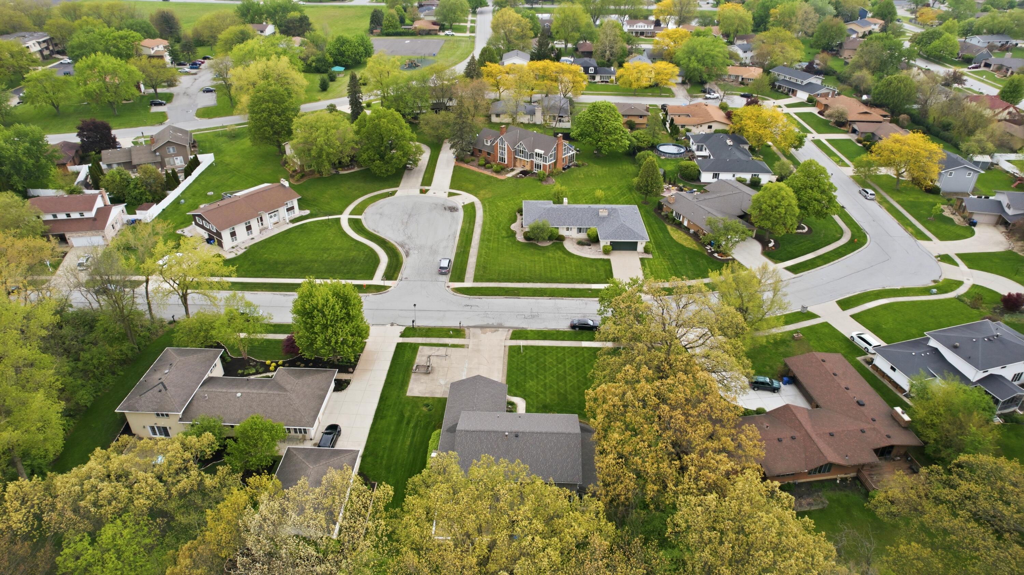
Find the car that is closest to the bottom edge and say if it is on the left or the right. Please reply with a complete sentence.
The car that is closest to the bottom edge is on the left side of the image.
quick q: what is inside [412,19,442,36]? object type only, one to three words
house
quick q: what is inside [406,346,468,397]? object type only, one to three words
sports court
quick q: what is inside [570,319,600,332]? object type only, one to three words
vehicle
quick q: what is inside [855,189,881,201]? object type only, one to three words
vehicle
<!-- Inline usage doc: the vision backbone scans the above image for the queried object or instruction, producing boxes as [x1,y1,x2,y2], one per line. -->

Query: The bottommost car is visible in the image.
[315,423,344,448]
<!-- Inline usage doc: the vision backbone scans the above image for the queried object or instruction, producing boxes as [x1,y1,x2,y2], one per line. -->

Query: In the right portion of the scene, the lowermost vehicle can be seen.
[748,377,783,396]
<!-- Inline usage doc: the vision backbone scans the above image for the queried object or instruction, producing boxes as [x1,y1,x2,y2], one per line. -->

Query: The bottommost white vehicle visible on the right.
[847,333,885,353]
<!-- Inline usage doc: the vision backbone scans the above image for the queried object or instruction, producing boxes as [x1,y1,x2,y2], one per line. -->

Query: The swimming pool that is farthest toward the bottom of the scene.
[654,145,689,163]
